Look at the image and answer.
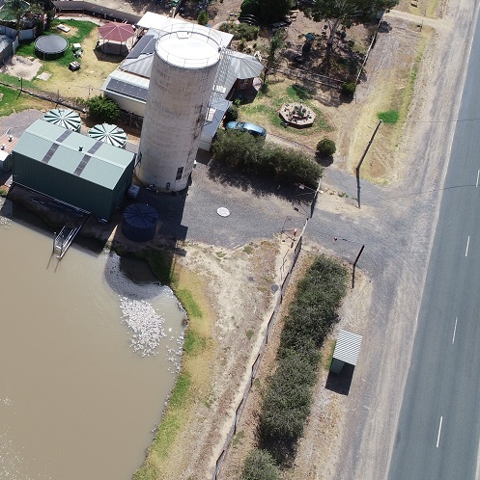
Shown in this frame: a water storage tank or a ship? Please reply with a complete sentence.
It is a water storage tank that can be seen here.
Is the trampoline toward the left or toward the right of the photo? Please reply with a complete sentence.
The trampoline sits on the left side.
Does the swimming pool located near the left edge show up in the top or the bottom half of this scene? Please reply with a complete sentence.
The swimming pool located near the left edge is in the top half of the image.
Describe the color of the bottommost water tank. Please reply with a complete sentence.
From above, the bottommost water tank appears black.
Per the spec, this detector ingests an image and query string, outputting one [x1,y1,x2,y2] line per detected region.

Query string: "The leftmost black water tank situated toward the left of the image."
[120,203,160,248]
